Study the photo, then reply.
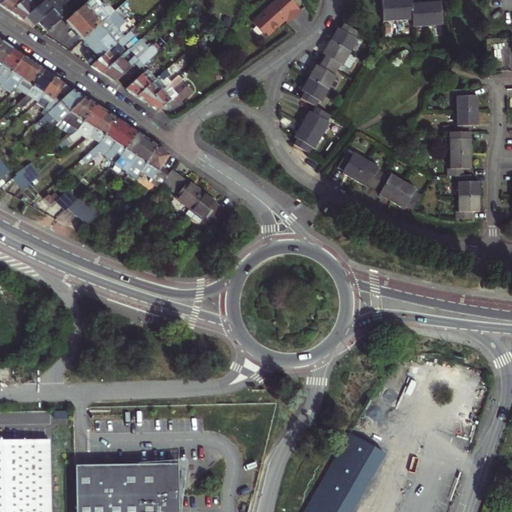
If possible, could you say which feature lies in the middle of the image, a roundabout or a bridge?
roundabout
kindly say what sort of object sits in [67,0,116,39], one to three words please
house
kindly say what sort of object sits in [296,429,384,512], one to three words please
shed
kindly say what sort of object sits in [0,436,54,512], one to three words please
building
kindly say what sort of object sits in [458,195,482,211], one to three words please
house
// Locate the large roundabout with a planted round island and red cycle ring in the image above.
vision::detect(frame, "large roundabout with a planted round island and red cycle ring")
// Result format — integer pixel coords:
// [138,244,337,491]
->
[220,234,360,373]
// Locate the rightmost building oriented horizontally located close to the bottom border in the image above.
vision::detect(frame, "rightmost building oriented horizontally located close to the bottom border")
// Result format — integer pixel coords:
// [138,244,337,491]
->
[76,458,188,512]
